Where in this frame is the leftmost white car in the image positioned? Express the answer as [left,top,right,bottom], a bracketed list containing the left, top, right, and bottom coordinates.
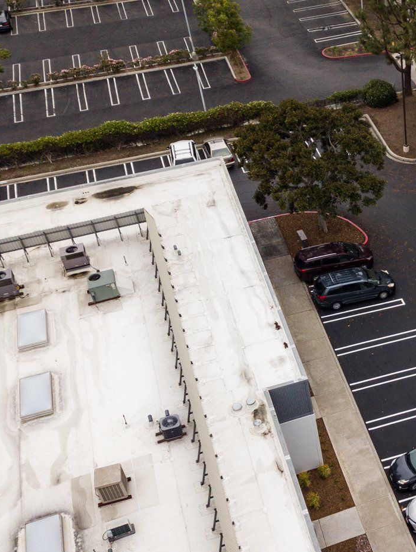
[171,141,202,166]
